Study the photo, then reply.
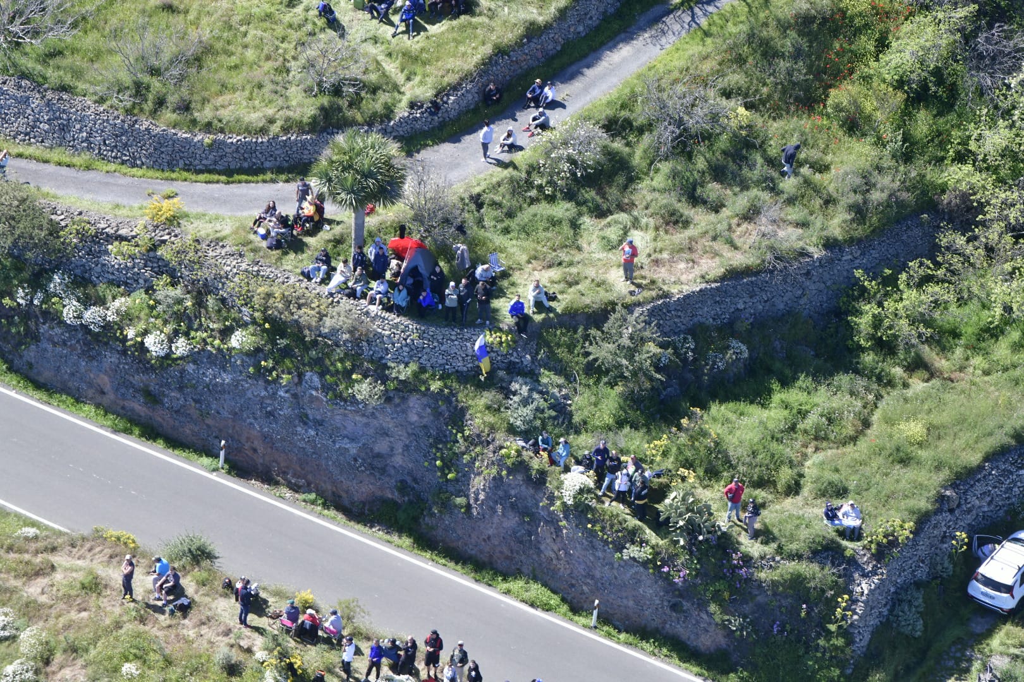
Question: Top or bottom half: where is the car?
bottom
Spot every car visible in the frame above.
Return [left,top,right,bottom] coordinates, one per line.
[968,518,1024,613]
